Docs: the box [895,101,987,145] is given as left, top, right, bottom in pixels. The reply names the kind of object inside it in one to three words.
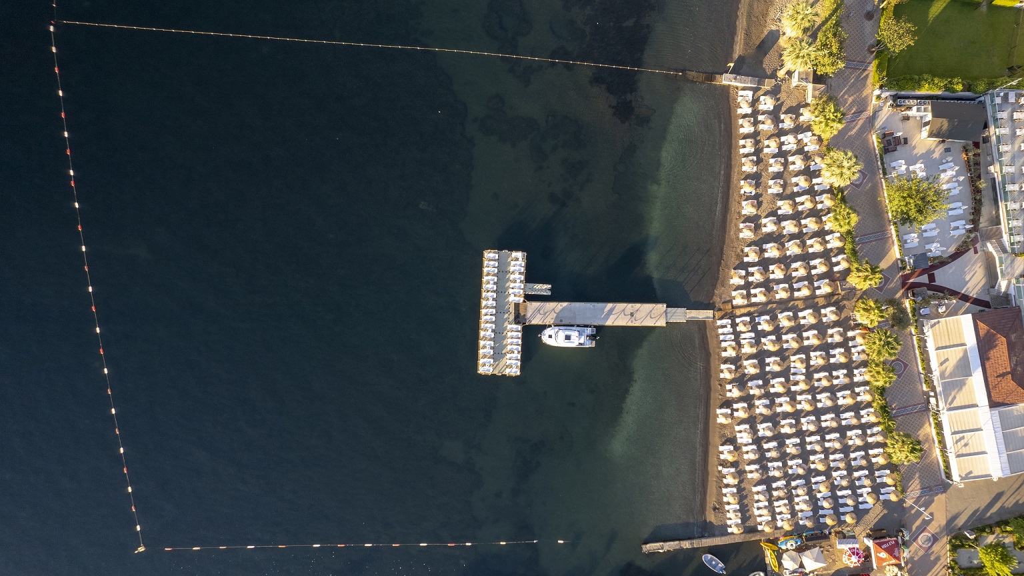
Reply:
building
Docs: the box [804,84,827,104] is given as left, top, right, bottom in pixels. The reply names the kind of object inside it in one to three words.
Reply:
building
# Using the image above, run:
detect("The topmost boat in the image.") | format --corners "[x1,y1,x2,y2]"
[538,324,601,347]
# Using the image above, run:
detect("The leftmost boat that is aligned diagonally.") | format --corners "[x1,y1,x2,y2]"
[702,555,729,576]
